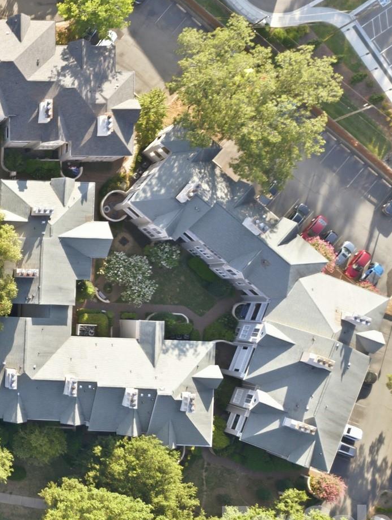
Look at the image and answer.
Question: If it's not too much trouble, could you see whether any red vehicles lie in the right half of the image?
Yes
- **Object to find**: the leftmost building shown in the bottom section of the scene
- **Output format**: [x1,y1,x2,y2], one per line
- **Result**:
[0,175,227,449]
